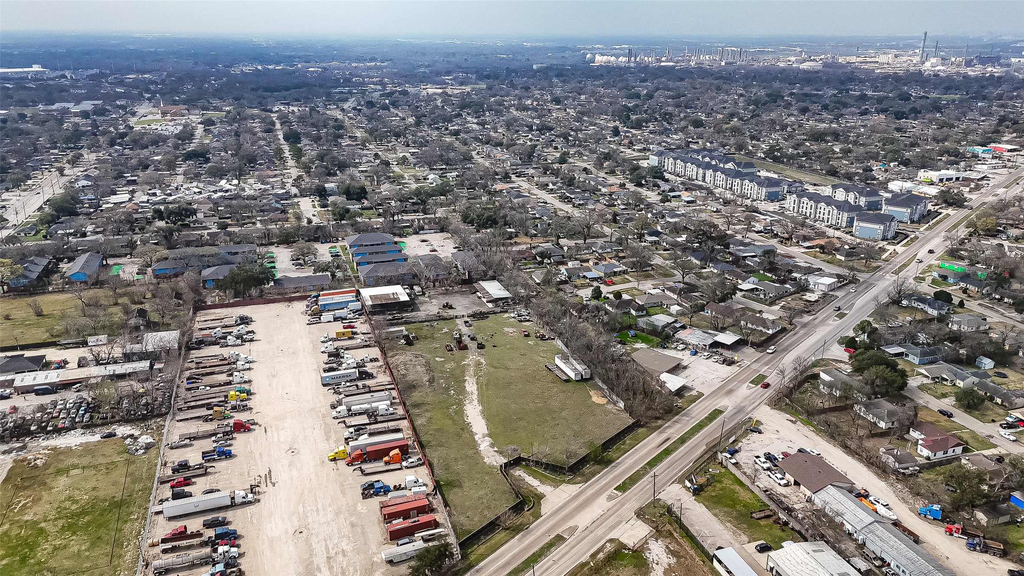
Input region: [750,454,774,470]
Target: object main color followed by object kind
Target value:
white vehicle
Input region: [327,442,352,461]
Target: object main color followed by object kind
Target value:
yellow vehicle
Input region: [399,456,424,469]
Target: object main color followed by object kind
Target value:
gray vehicle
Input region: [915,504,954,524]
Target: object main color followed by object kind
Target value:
blue vehicle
